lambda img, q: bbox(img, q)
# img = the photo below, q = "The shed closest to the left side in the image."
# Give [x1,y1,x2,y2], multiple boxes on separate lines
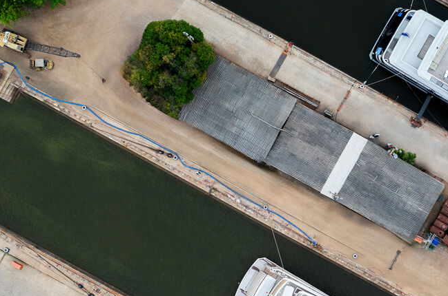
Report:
[179,53,296,161]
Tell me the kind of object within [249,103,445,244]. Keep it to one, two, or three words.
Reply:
shed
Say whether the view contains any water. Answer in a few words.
Yes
